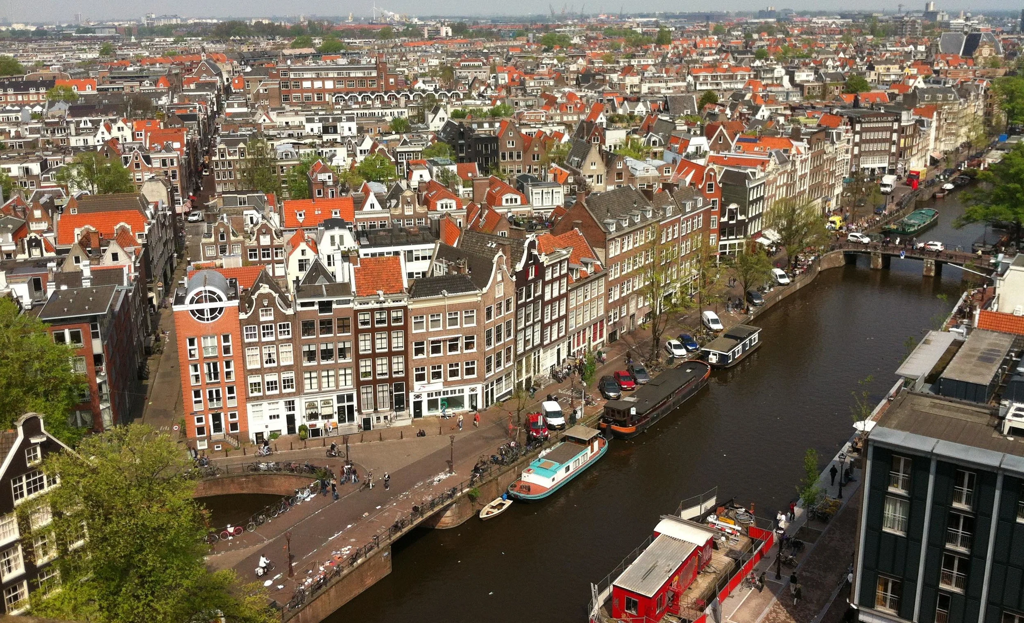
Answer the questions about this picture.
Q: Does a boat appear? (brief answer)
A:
Yes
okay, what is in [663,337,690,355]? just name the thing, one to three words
car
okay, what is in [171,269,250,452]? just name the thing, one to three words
house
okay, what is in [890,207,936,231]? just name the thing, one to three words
vessel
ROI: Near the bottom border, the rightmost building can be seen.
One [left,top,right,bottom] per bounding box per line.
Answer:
[839,391,1024,623]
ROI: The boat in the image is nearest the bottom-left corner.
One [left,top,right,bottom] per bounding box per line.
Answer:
[478,491,519,521]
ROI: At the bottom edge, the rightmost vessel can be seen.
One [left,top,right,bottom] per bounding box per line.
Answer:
[585,497,772,623]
